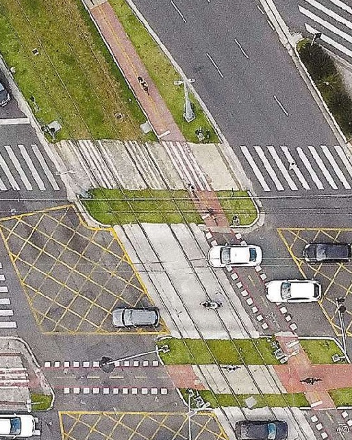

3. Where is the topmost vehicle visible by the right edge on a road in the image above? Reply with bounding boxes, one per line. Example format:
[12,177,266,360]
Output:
[303,239,351,264]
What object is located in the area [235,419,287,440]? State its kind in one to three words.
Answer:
car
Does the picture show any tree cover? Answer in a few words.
No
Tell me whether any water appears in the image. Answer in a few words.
No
